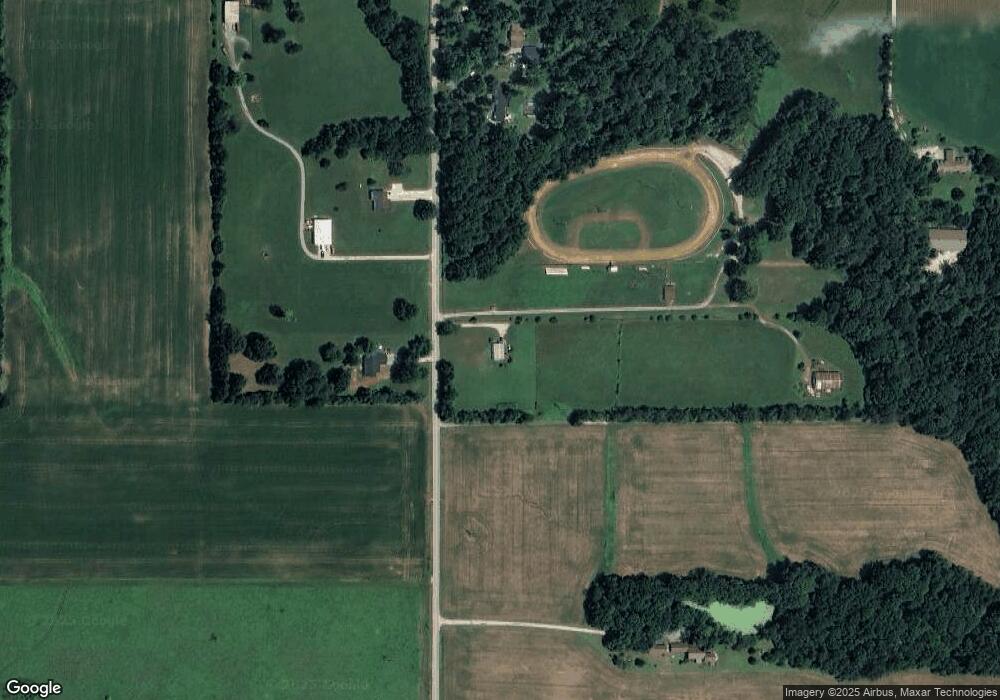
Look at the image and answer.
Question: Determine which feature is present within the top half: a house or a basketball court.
house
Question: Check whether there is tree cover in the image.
Yes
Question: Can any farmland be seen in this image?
Yes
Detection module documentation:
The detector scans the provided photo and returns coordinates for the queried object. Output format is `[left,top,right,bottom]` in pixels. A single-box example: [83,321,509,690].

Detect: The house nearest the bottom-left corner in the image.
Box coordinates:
[364,350,386,376]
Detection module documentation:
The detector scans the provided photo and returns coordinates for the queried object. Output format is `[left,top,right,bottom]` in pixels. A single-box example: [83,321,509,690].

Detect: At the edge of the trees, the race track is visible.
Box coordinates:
[525,147,721,265]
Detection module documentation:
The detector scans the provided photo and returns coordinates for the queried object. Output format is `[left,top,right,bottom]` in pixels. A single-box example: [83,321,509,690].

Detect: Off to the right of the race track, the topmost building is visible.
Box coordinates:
[939,149,972,173]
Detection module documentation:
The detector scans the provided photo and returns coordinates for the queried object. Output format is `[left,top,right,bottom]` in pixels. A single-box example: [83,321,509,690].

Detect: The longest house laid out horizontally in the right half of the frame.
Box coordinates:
[656,642,718,663]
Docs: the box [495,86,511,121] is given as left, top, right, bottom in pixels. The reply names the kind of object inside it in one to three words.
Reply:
house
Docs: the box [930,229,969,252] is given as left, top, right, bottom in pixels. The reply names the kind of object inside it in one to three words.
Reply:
barn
